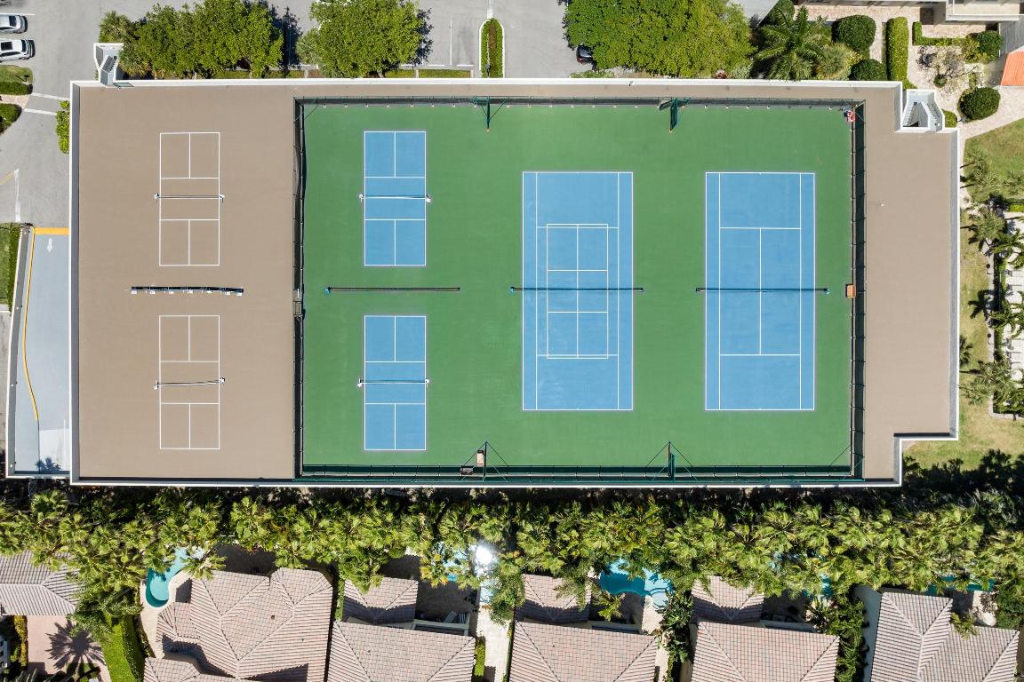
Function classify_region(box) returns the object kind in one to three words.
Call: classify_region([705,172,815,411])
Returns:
tennis court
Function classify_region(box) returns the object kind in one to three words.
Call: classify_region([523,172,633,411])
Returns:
tennis court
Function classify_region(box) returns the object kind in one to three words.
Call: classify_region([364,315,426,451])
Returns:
sports court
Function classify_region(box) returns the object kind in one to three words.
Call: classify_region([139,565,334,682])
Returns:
house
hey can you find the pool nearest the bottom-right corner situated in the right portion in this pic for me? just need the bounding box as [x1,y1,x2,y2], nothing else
[925,567,996,601]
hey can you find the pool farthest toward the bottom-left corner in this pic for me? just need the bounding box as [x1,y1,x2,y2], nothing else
[143,537,195,609]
